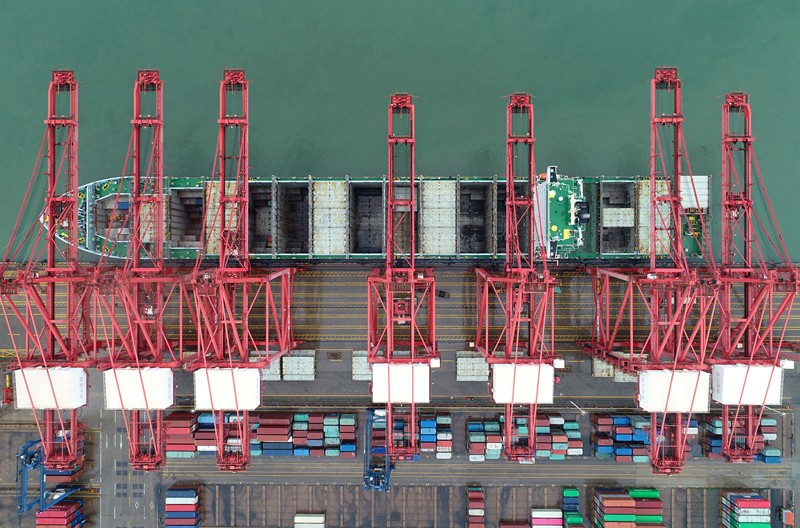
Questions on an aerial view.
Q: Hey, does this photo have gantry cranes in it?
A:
Yes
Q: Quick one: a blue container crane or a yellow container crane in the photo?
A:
blue container crane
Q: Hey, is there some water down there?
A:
Yes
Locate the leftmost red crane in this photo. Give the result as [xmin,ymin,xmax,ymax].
[0,69,152,470]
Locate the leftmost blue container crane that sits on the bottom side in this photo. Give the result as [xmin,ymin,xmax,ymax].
[15,437,84,514]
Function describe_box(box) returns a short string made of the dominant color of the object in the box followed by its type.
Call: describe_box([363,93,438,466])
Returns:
red container crane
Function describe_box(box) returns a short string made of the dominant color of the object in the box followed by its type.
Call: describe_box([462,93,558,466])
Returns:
red container crane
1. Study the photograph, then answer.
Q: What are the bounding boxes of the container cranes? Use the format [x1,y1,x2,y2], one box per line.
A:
[648,93,800,466]
[577,67,725,470]
[192,69,305,470]
[0,69,152,470]
[362,408,395,492]
[92,69,220,470]
[363,93,438,466]
[15,437,84,514]
[462,93,558,466]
